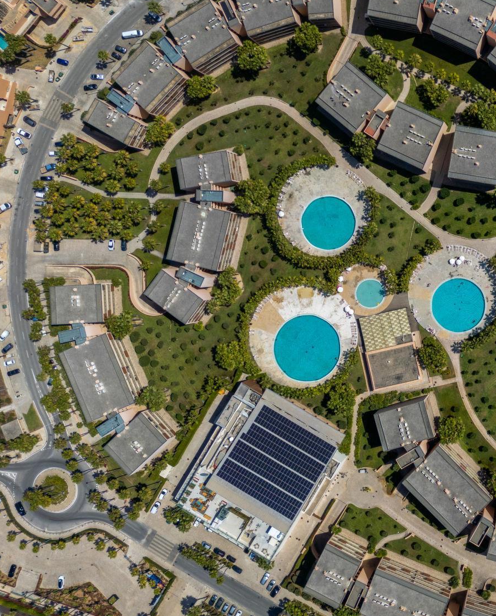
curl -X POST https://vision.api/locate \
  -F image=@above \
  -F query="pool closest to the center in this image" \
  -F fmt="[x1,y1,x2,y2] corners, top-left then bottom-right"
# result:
[249,286,357,387]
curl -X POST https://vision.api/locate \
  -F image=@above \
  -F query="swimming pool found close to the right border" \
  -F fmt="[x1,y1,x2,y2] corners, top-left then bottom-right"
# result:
[408,246,496,341]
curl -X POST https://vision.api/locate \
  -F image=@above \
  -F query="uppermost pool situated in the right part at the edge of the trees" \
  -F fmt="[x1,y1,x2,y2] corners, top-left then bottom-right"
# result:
[275,164,372,256]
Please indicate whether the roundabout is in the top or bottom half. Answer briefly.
bottom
